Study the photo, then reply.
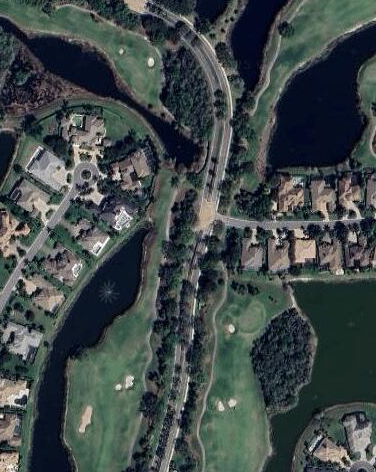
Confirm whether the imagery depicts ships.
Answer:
No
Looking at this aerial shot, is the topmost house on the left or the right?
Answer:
left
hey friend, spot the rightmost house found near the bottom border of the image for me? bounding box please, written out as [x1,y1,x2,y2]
[345,409,371,453]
